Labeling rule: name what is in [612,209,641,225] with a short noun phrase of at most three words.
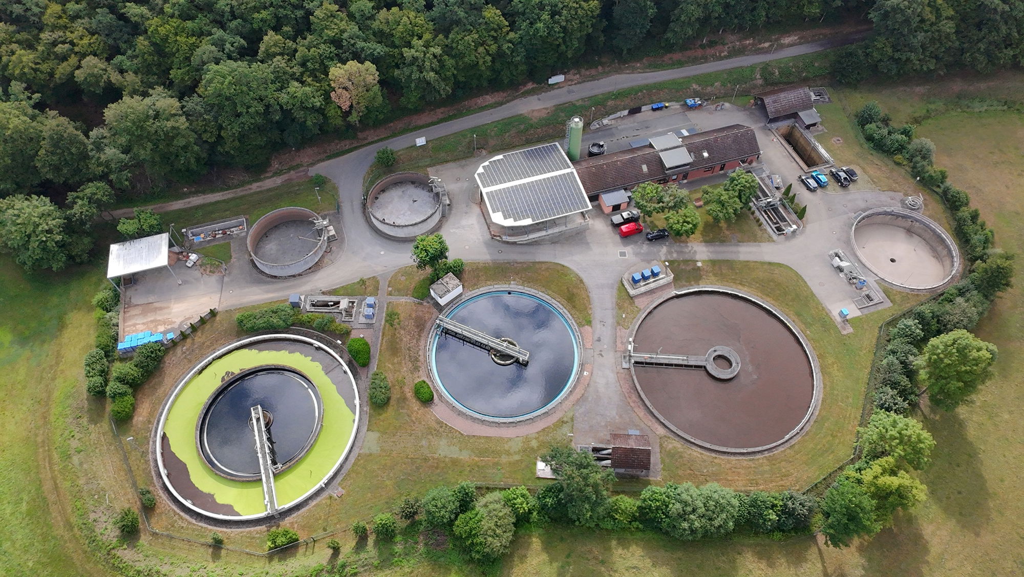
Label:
vehicle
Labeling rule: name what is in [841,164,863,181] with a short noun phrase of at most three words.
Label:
car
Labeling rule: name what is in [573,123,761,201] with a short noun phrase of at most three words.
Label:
building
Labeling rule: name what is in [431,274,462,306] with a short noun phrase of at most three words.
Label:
shed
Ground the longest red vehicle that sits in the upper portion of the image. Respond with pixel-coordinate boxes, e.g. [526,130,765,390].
[618,220,646,238]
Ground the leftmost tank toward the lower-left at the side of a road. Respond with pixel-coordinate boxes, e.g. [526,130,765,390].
[156,334,360,520]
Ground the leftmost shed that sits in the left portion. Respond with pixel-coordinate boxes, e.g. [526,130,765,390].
[106,234,181,297]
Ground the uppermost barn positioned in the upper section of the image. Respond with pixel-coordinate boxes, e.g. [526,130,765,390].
[747,83,824,130]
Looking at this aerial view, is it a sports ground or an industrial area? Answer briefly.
industrial area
